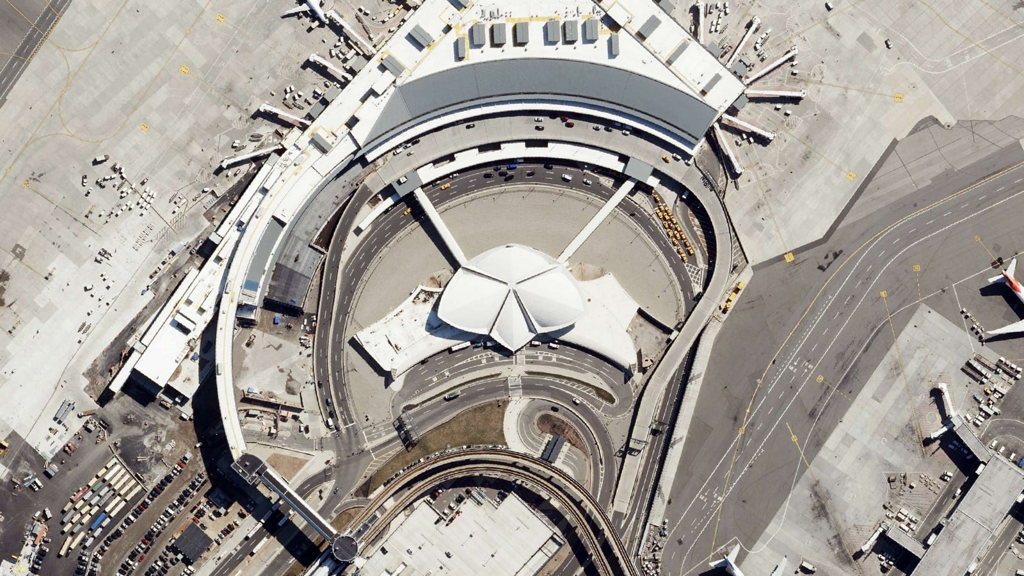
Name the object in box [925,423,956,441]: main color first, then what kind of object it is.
white jet bridge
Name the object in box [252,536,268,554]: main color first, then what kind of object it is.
white vehicle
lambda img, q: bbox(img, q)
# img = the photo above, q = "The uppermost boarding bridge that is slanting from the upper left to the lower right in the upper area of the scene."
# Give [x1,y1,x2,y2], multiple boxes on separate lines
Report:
[325,9,377,55]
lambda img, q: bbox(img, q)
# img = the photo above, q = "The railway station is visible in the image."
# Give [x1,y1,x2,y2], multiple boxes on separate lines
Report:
[306,541,367,576]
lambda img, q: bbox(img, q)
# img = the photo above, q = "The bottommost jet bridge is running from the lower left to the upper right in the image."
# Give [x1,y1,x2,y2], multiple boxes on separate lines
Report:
[860,520,891,553]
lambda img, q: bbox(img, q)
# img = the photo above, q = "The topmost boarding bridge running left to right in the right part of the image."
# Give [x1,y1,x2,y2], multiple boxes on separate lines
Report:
[742,87,809,99]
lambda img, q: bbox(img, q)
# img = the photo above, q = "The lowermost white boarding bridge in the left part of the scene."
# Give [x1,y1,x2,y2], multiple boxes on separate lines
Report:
[220,144,285,168]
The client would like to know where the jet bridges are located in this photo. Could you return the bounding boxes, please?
[712,119,744,175]
[937,381,958,413]
[725,15,761,69]
[325,9,377,55]
[307,53,353,81]
[925,423,956,441]
[259,103,311,126]
[860,520,891,553]
[697,0,706,46]
[743,46,800,85]
[742,87,809,99]
[720,112,778,140]
[220,144,285,168]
